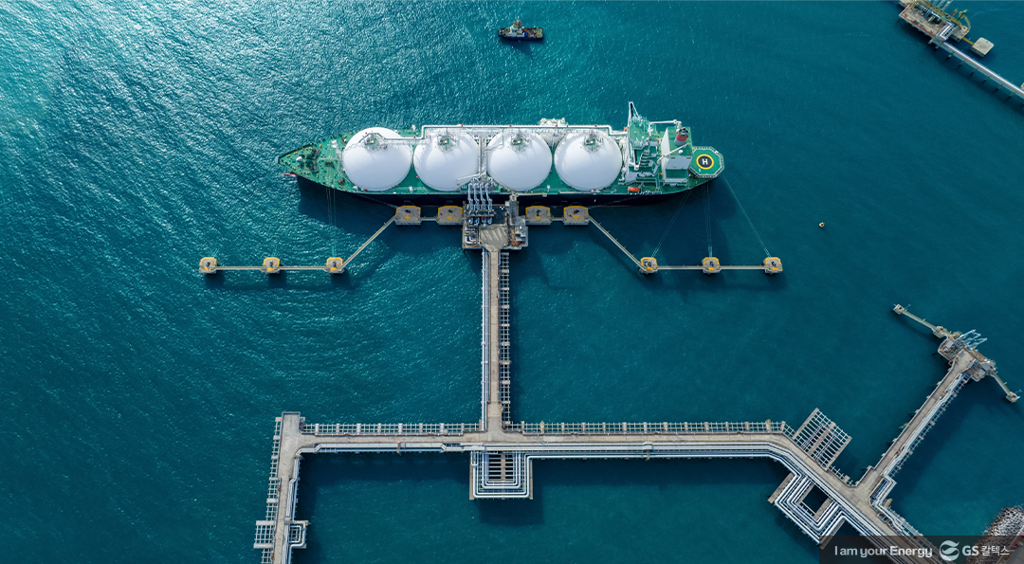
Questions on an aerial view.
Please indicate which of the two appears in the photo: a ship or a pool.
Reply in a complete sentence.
The one in the frame is a ship.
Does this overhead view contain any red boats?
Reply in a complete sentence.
No, there isn't any red boat down there.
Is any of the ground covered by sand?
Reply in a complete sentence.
No, the picture contains no sand.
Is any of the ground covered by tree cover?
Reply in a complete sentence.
No, there is no tree cover in the image.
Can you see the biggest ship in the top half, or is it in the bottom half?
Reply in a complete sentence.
You can find the biggest ship in the top half.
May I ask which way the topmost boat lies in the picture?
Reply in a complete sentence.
The topmost boat is laid out from side to side.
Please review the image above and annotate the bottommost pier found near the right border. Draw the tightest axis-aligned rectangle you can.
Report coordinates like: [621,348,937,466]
[933,332,995,384]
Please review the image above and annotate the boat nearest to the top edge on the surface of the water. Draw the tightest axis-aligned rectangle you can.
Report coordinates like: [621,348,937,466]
[499,19,545,43]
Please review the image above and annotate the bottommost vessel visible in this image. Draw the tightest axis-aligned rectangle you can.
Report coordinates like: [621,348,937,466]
[277,103,722,206]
